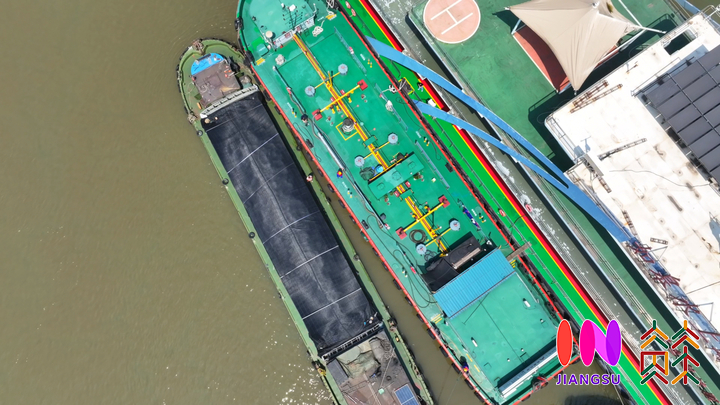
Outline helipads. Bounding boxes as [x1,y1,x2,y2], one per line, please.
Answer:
[423,0,480,43]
